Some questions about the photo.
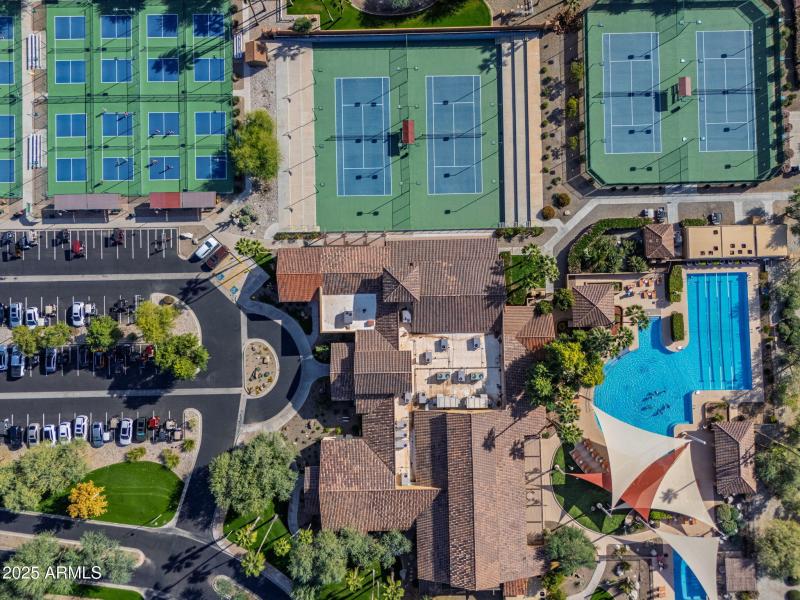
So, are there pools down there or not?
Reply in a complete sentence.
Yes, there is a pool in the image.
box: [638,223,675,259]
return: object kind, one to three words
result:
building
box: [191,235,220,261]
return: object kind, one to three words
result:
truck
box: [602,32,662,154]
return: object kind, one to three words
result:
tennis court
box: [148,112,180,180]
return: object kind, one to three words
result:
sports court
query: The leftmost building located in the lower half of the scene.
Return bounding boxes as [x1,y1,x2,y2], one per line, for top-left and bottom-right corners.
[277,238,555,598]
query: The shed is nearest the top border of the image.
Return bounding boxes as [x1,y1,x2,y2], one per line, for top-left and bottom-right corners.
[245,41,269,68]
